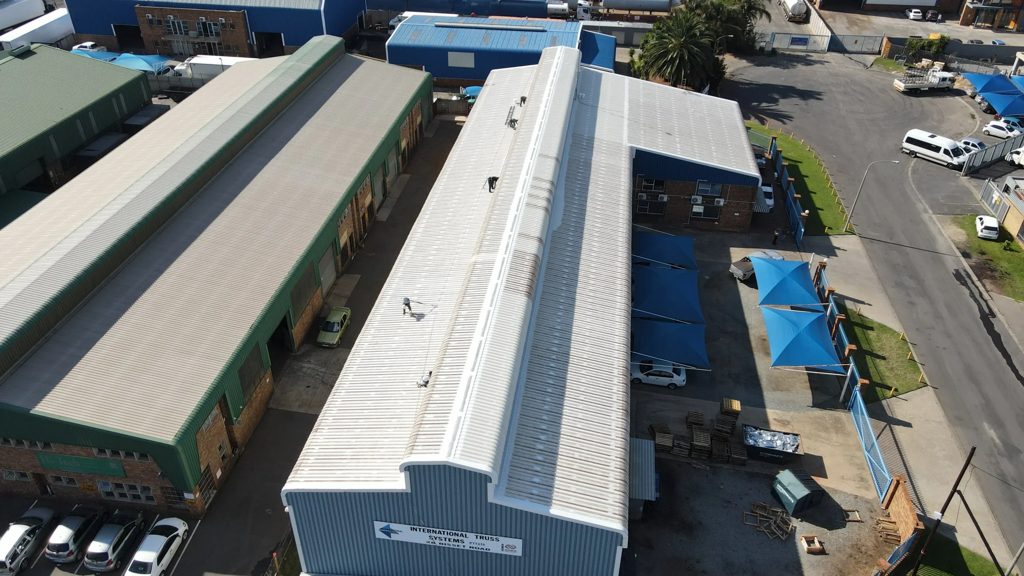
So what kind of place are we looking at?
industrial area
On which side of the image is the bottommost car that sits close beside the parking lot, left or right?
right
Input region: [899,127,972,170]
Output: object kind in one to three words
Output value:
vehicle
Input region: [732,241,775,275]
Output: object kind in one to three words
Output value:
truck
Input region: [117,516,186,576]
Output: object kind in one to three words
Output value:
car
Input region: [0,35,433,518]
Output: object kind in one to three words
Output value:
warehouse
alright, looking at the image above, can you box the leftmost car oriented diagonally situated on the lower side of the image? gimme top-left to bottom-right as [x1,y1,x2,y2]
[0,504,56,575]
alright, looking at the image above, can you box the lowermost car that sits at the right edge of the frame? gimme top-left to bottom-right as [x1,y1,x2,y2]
[966,213,1002,237]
